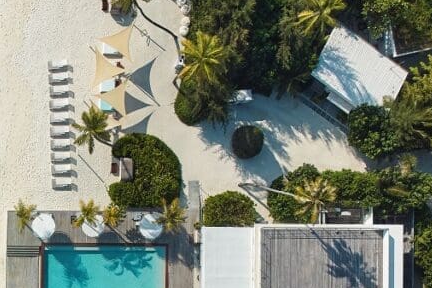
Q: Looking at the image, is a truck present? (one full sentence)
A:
No, I find no truck anywhere in the image.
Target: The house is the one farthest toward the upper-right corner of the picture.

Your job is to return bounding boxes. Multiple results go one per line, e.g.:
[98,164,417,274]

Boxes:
[285,27,413,135]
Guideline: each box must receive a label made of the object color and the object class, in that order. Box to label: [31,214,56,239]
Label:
white umbrella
